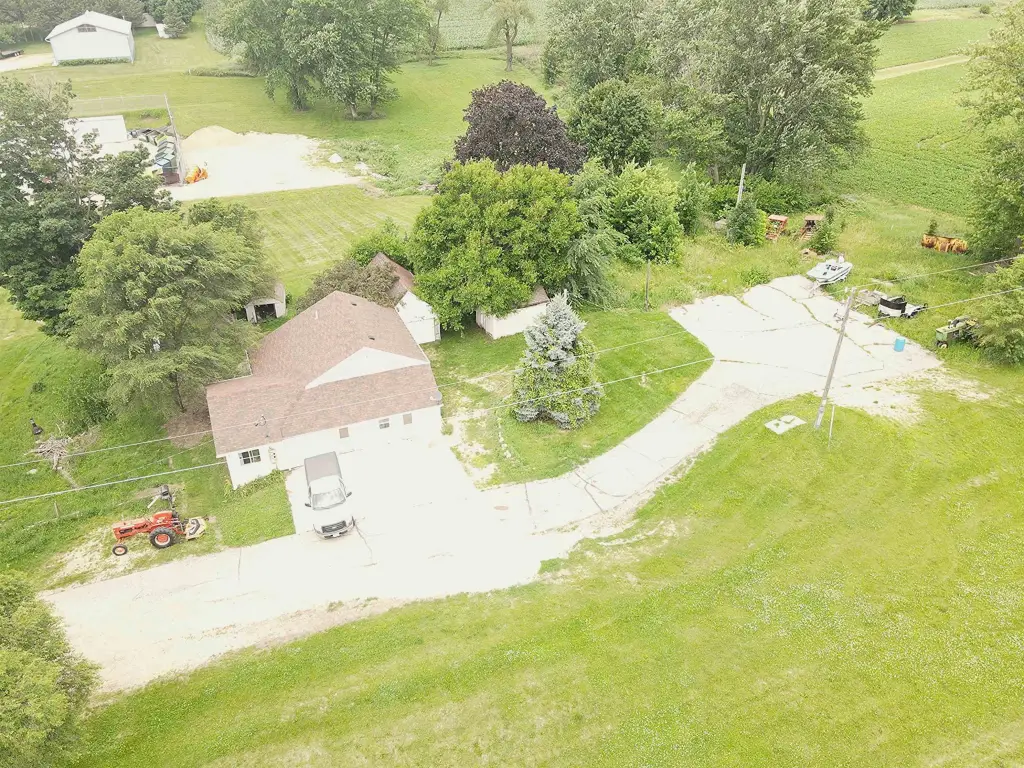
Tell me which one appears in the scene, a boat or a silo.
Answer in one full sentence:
The one in the frame is a boat.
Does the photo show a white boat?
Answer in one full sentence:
Yes, this view includes a white boat.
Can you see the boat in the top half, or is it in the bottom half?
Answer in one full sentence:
You can find the boat in the top half.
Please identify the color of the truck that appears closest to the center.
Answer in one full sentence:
The truck that appears closest to the center is white.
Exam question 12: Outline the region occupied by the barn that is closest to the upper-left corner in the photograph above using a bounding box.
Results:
[41,7,135,66]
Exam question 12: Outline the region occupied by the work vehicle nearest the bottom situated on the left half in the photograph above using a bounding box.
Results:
[104,506,178,557]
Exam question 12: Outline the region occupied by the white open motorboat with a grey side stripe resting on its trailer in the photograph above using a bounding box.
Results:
[809,253,863,278]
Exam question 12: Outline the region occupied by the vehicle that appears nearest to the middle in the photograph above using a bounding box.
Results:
[297,449,354,539]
